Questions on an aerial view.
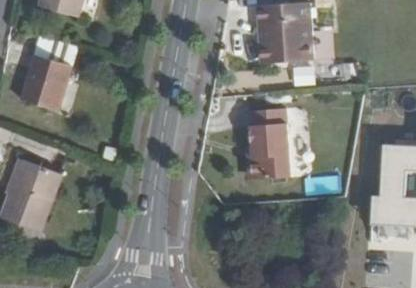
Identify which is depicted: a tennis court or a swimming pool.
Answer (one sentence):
It is a swimming pool that can be seen here.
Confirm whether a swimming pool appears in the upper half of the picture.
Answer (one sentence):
No, the scene shows no swimming pool in the upper half of the picture.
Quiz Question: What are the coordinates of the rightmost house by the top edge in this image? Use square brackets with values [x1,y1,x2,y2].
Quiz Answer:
[256,2,315,64]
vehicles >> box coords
[138,194,150,216]
[366,262,389,273]
[232,34,242,56]
[171,79,183,99]
[366,250,388,261]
